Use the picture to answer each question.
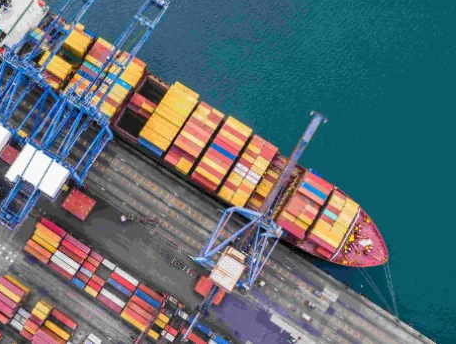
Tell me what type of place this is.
port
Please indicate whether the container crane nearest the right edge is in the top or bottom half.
bottom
